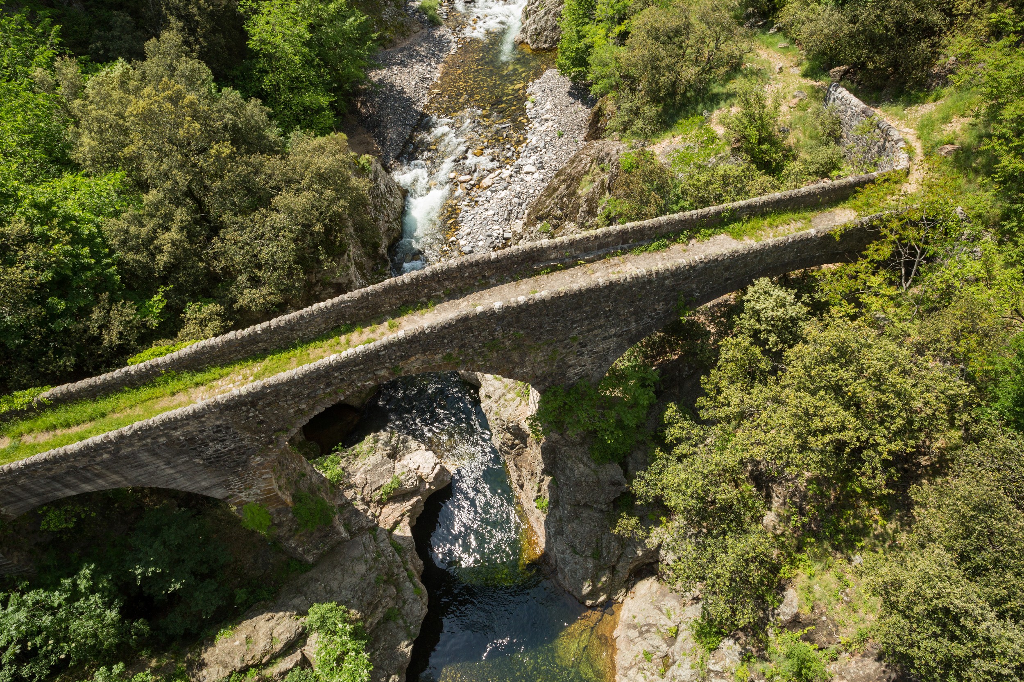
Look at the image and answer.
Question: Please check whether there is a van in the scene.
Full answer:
No, there's no van here.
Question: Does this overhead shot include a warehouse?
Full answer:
No, no warehouse is visible in the view.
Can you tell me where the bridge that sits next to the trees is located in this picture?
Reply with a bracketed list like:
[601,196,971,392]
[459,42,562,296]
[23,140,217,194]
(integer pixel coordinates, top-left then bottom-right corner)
[0,169,941,568]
